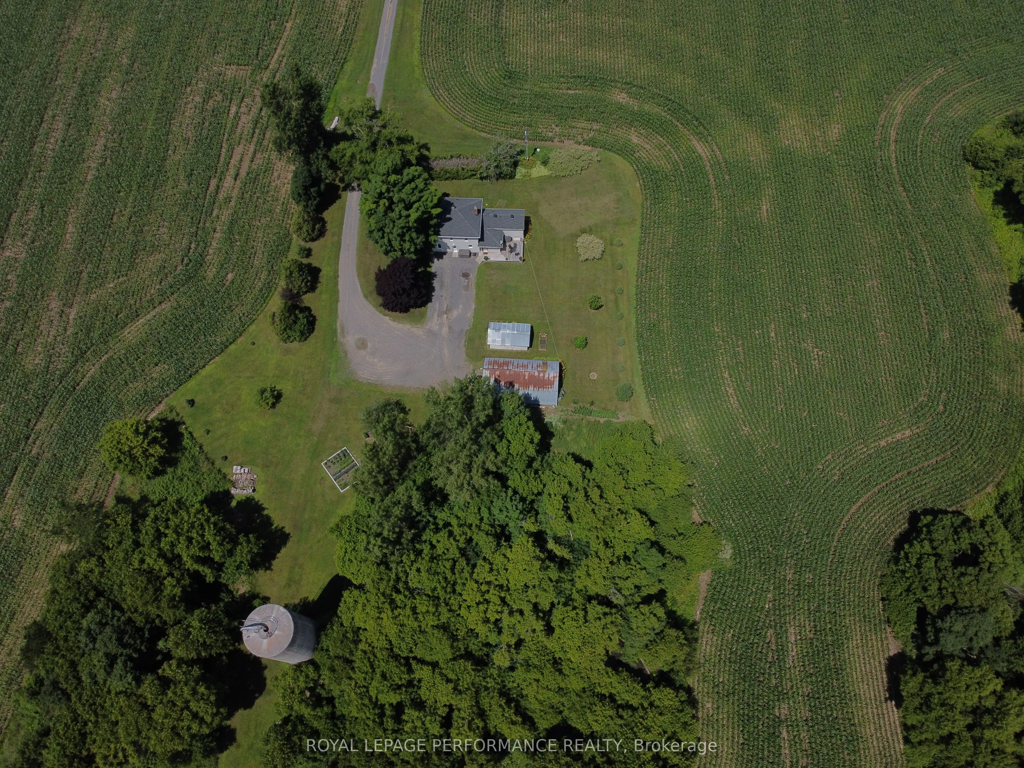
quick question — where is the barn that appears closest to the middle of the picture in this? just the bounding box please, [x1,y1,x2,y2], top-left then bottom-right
[478,358,559,409]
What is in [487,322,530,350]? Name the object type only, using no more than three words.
shed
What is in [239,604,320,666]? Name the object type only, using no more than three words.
silo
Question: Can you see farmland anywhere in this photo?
Yes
